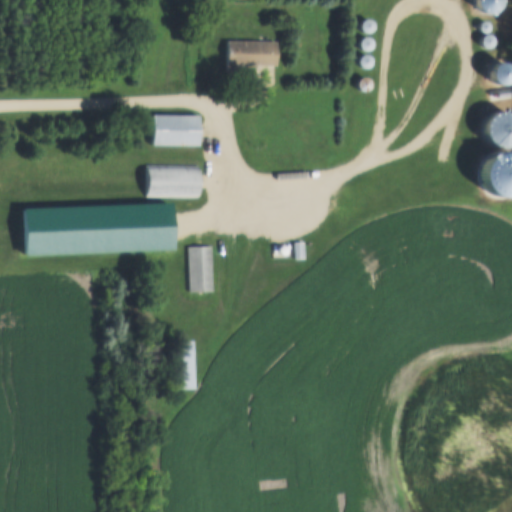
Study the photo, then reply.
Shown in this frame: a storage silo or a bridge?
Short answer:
storage silo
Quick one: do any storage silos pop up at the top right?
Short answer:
Yes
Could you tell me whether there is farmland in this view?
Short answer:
Yes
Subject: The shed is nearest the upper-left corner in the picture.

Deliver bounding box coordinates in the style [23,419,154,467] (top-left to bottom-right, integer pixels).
[152,115,203,147]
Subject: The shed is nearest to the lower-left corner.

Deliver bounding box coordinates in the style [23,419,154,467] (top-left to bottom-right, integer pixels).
[180,340,198,391]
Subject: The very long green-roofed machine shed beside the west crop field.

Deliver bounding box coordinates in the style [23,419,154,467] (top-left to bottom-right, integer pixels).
[22,203,178,256]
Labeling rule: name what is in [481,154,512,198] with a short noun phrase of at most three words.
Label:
silo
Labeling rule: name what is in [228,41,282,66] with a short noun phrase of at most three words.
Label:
house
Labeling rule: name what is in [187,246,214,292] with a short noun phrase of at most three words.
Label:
shed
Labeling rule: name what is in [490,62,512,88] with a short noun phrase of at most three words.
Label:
silo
